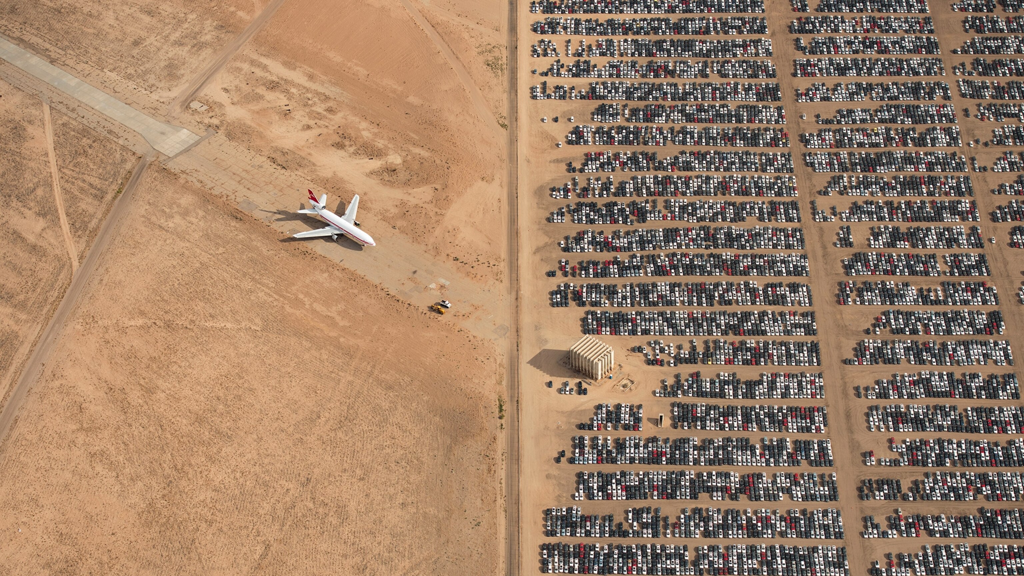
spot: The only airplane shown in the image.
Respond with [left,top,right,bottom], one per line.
[295,189,376,247]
